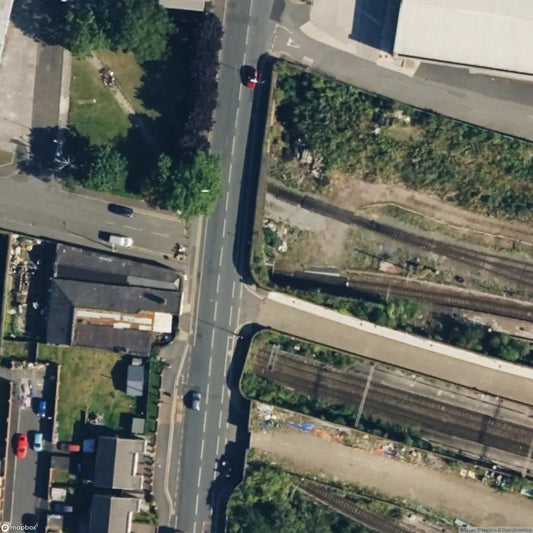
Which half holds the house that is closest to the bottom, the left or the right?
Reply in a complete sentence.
You can find the house that is closest to the bottom on the left side of the picture.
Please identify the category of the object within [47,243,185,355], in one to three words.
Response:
building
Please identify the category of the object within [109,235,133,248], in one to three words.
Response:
vehicle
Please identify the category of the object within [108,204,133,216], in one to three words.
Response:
vehicle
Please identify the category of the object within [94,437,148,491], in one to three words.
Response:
house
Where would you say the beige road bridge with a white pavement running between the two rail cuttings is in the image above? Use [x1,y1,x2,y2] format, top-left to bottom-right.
[268,291,533,407]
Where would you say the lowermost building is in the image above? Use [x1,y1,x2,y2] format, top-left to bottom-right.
[89,496,143,533]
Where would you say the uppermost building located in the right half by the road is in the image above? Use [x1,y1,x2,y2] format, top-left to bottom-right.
[394,0,533,78]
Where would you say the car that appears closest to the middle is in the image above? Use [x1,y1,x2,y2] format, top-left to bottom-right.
[153,333,174,346]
